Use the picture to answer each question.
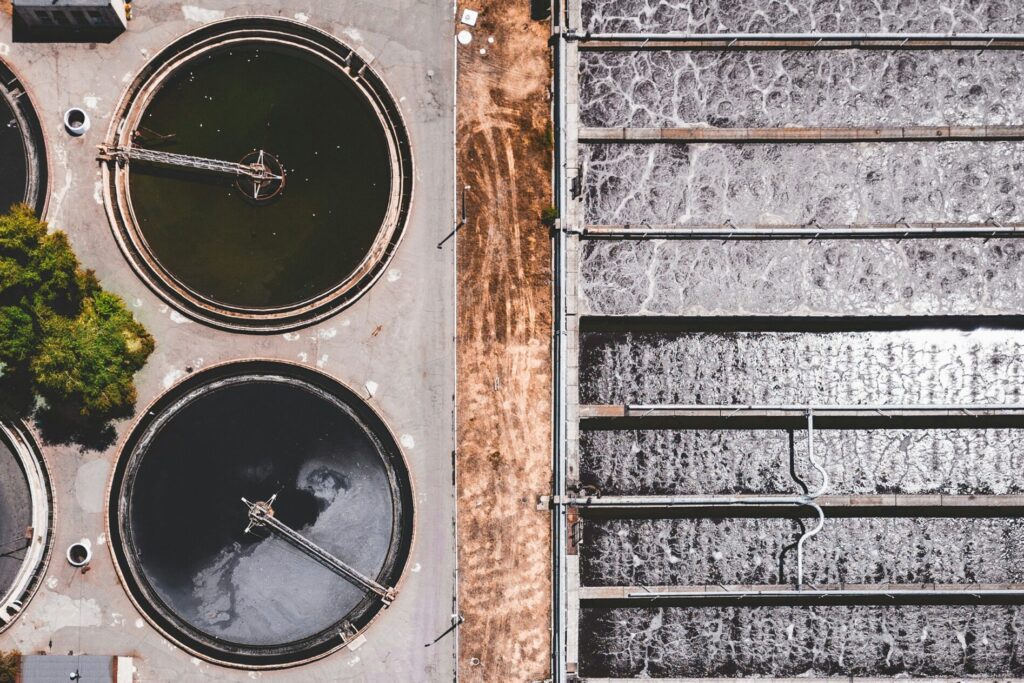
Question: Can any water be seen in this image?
Yes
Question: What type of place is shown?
industrial area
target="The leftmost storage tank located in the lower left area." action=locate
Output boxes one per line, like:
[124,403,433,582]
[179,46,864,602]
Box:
[0,395,58,636]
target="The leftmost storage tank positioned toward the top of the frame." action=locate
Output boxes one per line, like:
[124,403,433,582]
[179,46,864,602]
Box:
[0,55,50,229]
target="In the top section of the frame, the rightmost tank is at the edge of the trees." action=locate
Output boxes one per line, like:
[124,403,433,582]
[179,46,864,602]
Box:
[102,17,414,331]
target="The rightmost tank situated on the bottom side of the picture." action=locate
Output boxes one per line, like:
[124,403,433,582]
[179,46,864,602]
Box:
[106,359,415,668]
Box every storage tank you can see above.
[0,395,58,636]
[102,17,414,331]
[106,359,415,668]
[0,55,50,229]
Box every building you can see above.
[13,0,125,29]
[16,656,140,683]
